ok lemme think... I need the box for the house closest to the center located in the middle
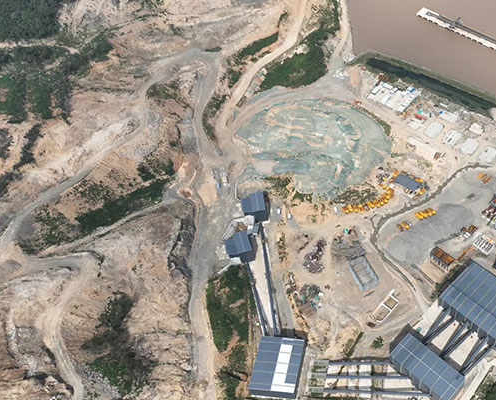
[241,192,268,223]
